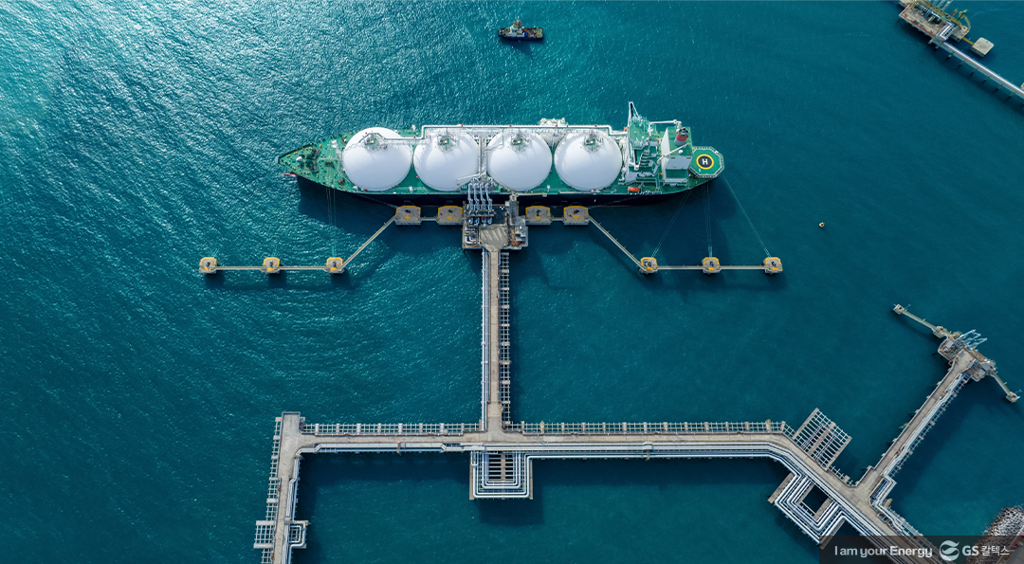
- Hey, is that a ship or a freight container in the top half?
ship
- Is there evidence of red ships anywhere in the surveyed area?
No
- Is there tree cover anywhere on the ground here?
No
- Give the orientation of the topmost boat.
horizontally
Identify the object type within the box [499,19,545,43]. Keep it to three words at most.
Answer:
boat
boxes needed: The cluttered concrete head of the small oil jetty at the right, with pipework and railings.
[933,332,995,384]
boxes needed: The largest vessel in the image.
[277,103,722,206]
